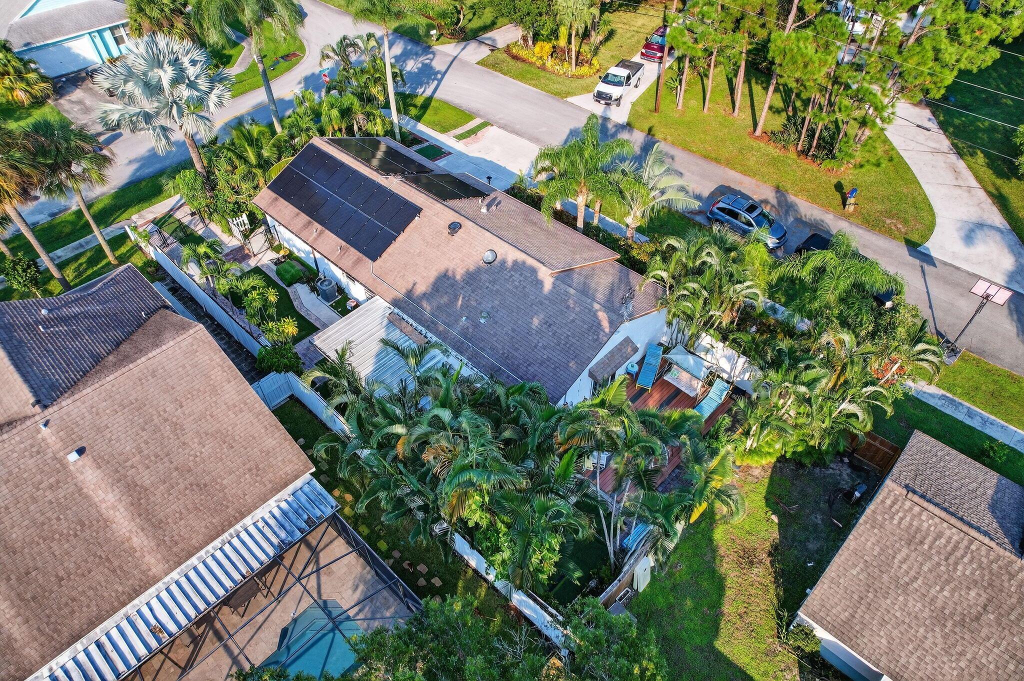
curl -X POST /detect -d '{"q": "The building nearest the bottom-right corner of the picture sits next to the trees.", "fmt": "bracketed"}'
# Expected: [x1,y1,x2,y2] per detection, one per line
[794,432,1024,681]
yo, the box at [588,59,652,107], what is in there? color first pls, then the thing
white truck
